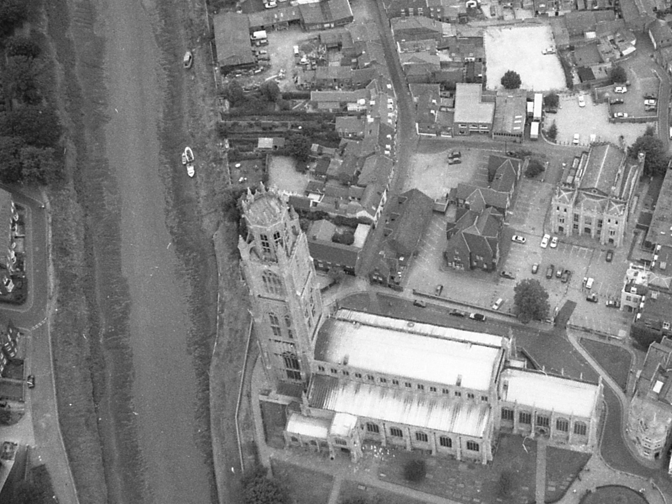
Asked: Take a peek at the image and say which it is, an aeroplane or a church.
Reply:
church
